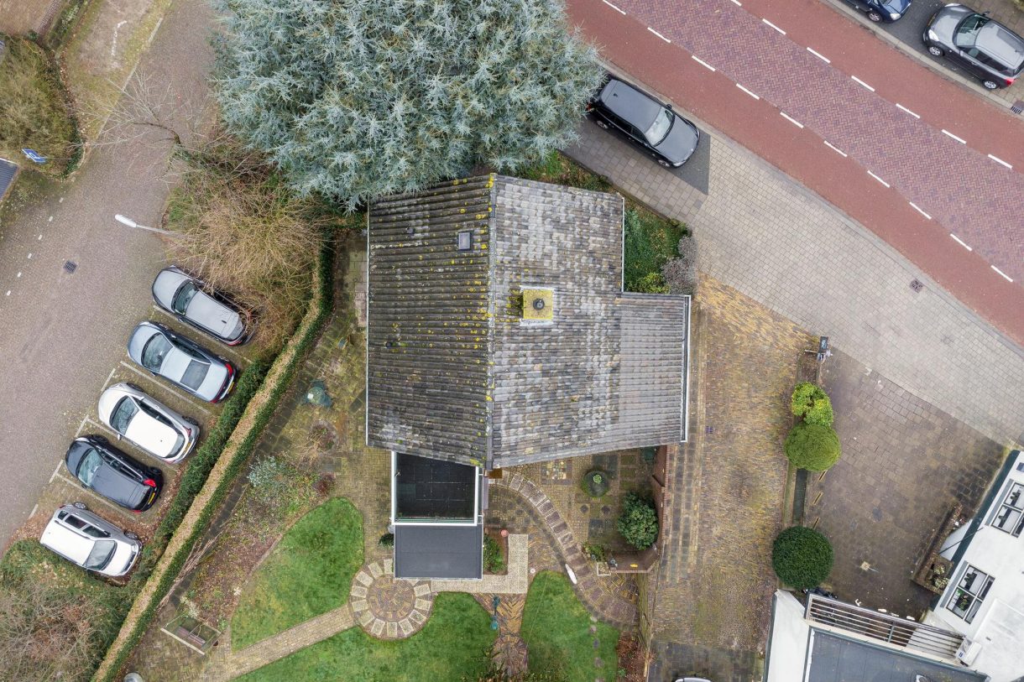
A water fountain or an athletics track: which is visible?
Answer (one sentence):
There is a water fountain in the scene.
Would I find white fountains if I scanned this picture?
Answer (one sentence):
No, no white fountain is visible in the scene.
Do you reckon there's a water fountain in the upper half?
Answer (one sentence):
No, I see no water fountain in the upper half.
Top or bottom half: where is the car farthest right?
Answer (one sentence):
You can find the car farthest right in the top half.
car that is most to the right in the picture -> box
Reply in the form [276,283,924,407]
[919,5,1024,96]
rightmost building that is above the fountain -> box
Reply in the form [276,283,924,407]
[363,169,697,473]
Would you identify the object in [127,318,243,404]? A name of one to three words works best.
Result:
car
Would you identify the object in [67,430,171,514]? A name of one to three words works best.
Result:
car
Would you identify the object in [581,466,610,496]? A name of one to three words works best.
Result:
fountain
